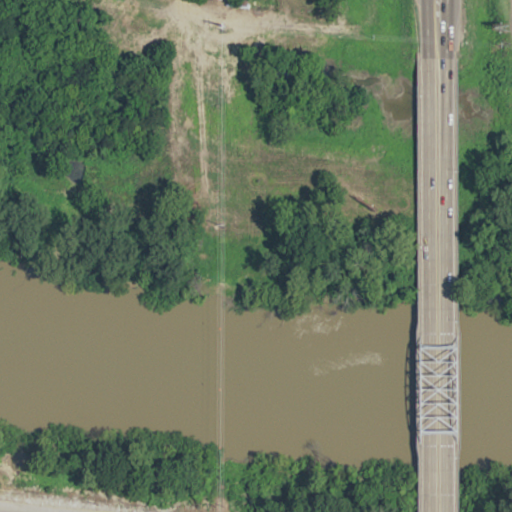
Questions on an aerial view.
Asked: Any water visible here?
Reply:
Yes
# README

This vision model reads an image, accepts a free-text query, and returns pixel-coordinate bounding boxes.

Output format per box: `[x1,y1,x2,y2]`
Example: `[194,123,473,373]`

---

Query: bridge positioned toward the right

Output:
[416,58,461,512]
